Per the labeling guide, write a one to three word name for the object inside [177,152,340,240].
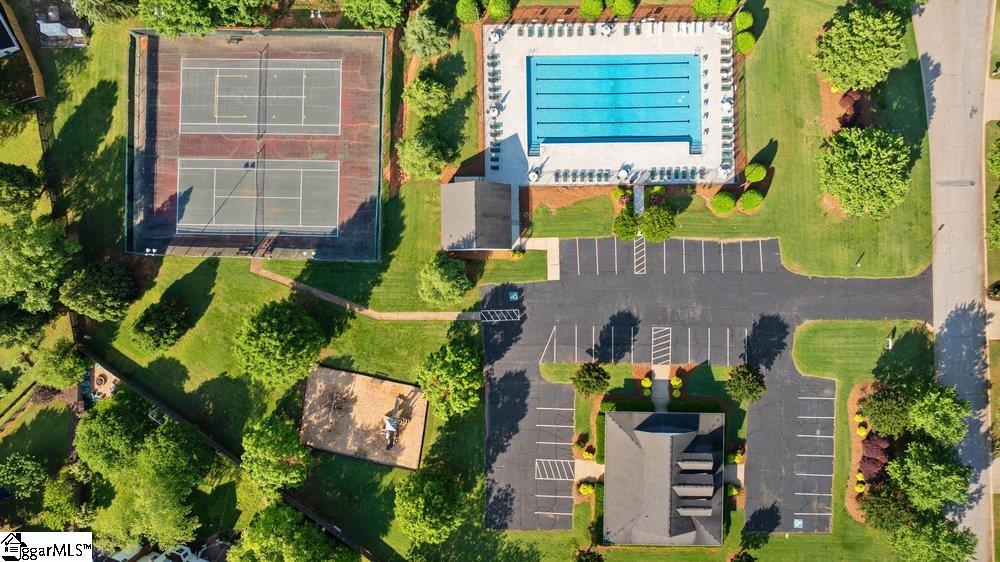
tennis court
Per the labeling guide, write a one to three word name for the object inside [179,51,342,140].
tennis court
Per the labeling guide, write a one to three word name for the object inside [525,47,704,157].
swimming pool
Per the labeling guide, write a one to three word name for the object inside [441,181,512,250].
building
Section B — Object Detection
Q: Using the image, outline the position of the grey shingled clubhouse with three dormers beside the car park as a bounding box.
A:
[603,411,725,546]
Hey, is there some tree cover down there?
Yes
